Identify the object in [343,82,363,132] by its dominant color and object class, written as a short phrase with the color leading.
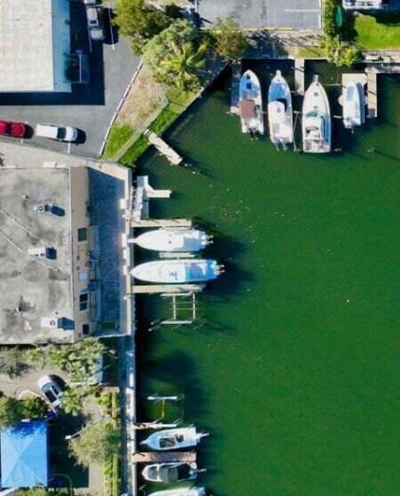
white boat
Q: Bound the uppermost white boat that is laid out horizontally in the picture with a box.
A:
[123,228,218,250]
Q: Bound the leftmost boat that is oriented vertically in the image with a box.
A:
[237,69,265,140]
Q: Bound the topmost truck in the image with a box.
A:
[81,0,106,42]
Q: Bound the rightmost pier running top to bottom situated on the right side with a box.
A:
[364,75,380,118]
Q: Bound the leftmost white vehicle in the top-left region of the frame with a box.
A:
[33,123,84,143]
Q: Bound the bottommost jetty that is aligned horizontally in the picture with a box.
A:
[136,448,197,465]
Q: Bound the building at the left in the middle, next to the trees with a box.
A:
[0,167,91,344]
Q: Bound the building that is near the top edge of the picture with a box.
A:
[0,0,71,93]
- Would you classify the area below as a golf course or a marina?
marina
